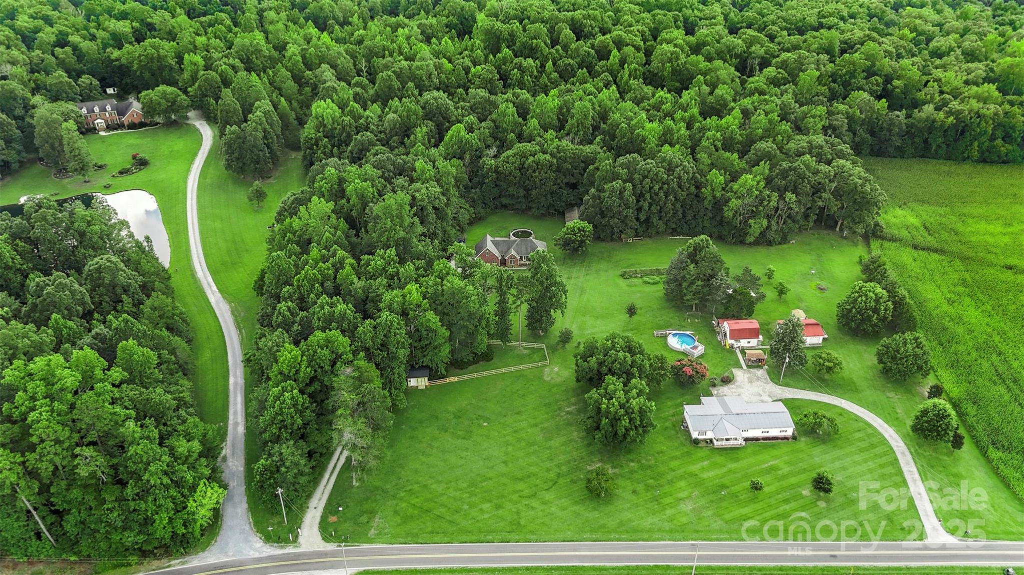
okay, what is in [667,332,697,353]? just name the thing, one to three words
swimming pool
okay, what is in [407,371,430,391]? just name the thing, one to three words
shed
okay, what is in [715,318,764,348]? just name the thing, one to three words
barn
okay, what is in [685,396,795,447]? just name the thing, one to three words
house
